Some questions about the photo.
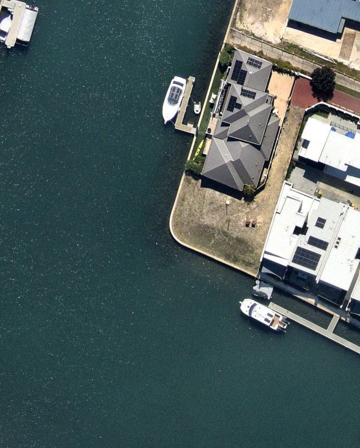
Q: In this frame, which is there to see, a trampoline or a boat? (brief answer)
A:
boat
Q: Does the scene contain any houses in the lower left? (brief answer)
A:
No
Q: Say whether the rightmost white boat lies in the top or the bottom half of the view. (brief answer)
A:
bottom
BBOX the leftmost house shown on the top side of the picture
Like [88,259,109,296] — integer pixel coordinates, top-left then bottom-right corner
[202,50,281,191]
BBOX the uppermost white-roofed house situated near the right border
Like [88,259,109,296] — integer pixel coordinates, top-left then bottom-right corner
[298,117,360,187]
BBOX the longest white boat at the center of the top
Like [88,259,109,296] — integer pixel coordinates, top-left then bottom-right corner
[165,74,189,125]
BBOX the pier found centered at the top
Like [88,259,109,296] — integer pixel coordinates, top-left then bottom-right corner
[175,76,198,135]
